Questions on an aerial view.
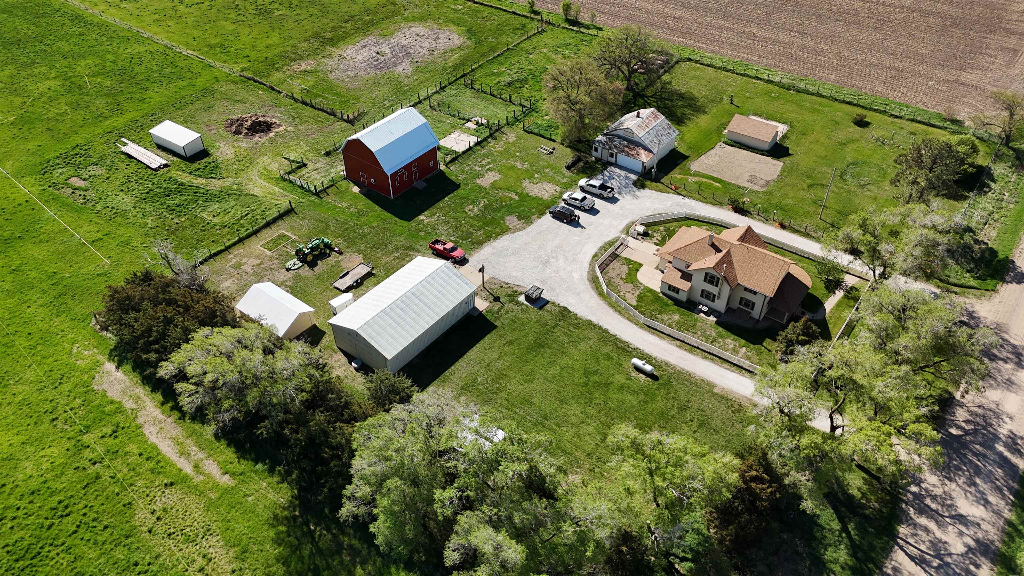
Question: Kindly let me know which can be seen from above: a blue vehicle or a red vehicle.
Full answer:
The one in the frame is a red vehicle.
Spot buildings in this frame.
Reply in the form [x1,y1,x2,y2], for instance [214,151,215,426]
[337,106,442,198]
[655,224,812,324]
[591,107,680,174]
[152,120,205,157]
[236,284,316,347]
[329,259,478,368]
[727,113,782,148]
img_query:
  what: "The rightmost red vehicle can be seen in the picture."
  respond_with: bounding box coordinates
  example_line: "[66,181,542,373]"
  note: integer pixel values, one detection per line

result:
[428,239,466,262]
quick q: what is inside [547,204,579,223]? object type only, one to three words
car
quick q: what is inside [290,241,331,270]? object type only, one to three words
work vehicle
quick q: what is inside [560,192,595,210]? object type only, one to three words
vehicle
